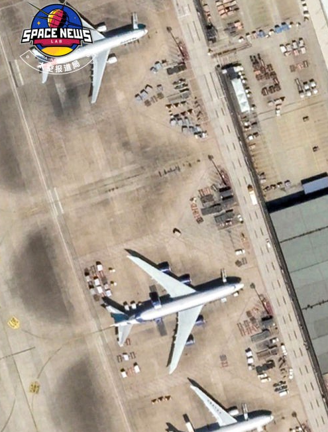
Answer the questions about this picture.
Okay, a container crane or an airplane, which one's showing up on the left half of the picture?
airplane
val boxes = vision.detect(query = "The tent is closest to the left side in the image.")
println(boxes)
[231,78,250,114]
